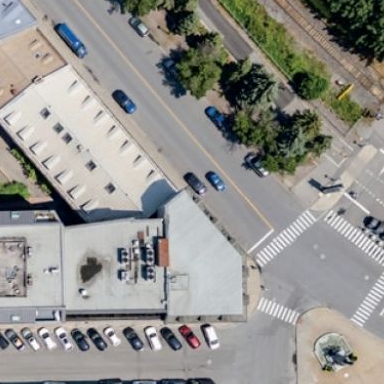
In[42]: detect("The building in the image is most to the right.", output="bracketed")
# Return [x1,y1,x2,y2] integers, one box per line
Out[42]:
[154,188,247,320]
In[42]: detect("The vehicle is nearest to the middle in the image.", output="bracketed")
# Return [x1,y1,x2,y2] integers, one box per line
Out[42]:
[183,170,207,196]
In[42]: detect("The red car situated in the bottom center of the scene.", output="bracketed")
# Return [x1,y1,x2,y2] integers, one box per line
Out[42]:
[180,324,200,349]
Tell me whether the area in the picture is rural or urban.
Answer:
urban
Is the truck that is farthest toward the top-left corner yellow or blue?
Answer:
blue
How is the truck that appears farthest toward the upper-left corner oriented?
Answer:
at an angle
